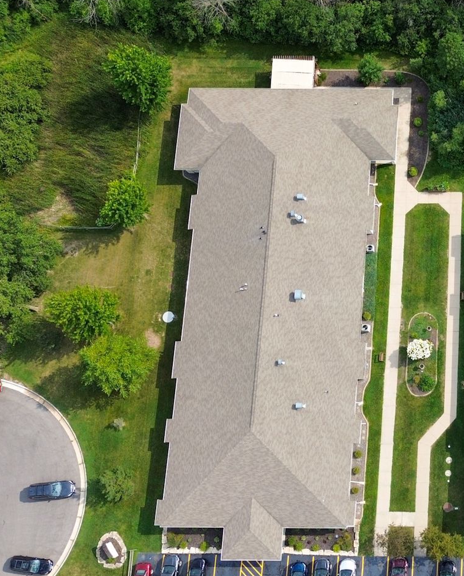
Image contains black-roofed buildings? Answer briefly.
No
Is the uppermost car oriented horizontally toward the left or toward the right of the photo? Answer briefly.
left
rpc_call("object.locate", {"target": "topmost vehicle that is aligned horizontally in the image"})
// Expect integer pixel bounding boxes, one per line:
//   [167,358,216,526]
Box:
[27,480,77,501]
